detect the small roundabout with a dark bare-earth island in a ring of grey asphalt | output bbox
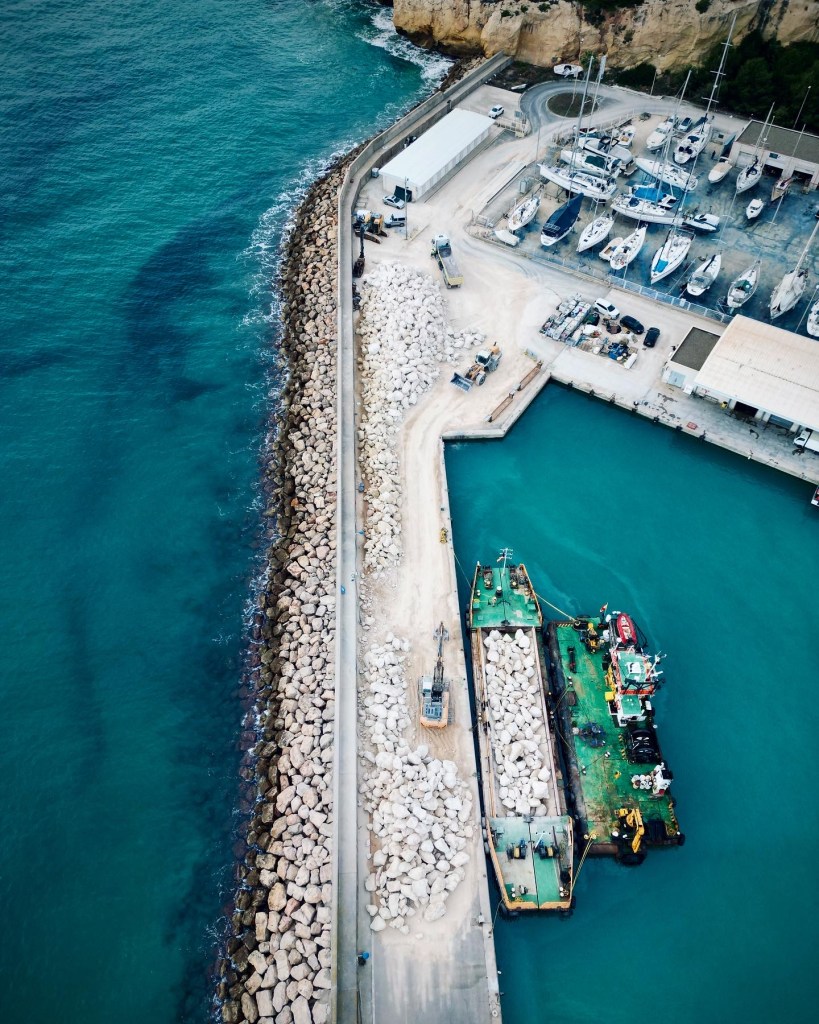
[548,92,597,117]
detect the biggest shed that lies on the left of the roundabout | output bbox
[377,107,501,210]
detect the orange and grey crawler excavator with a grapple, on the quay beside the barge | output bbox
[417,615,452,723]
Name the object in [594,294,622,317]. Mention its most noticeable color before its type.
white car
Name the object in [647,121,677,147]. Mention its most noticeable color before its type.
white boat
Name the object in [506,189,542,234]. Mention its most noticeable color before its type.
white boat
